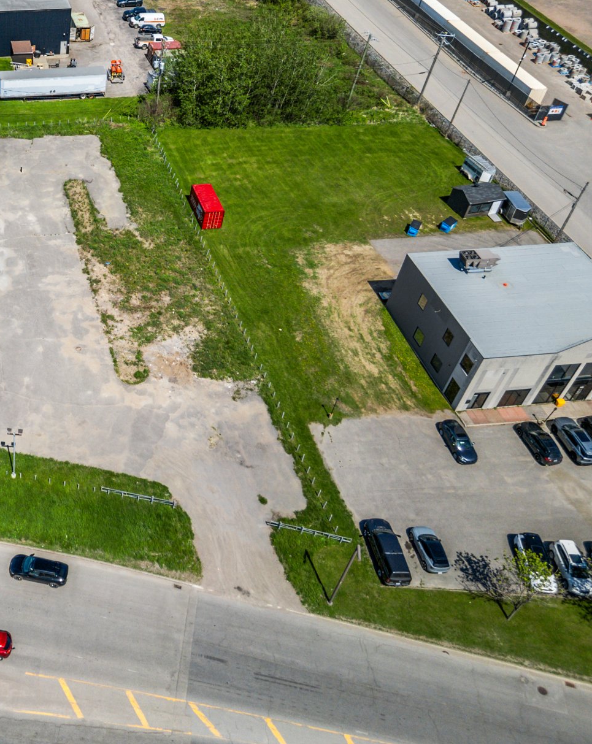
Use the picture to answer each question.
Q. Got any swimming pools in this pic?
No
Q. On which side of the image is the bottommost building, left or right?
right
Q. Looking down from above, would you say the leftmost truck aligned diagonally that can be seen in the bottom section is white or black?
black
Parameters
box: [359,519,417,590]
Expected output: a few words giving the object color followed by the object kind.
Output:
black truck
